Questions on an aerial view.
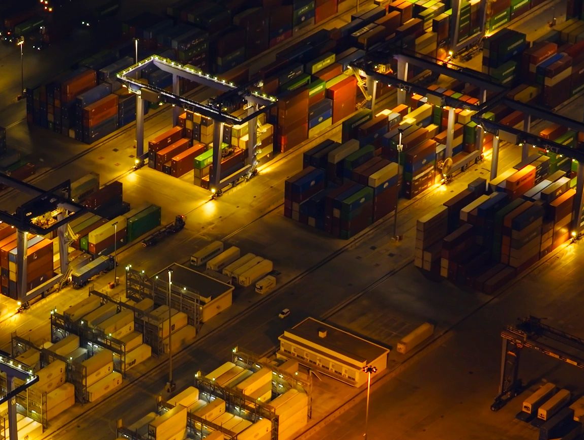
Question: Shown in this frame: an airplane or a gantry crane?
gantry crane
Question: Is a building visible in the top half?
No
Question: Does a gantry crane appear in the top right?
Yes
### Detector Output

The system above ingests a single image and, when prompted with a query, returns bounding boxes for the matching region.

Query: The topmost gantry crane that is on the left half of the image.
[108,54,282,197]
